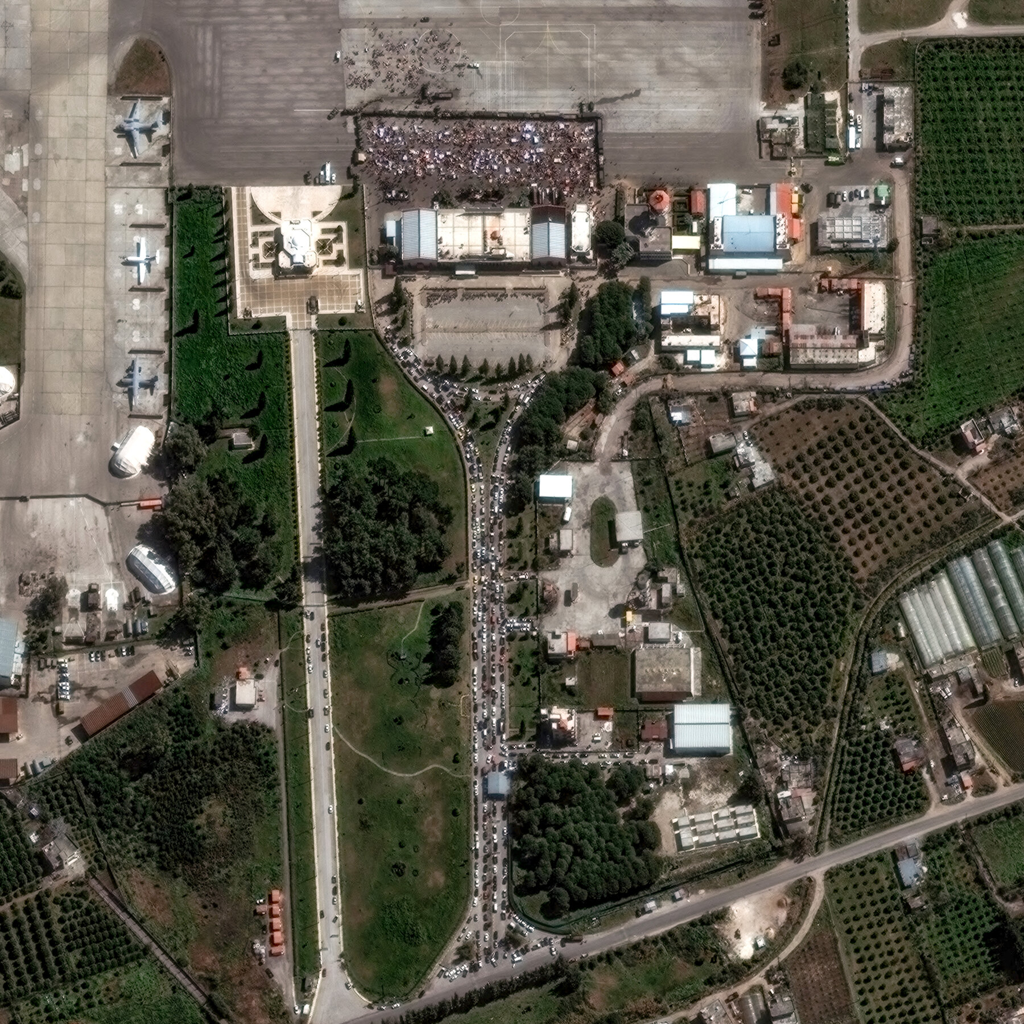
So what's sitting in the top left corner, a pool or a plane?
plane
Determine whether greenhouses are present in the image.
Yes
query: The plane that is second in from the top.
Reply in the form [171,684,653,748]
[125,237,160,280]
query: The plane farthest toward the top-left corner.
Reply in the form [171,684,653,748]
[115,101,155,150]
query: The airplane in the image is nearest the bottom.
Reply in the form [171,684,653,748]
[116,357,159,405]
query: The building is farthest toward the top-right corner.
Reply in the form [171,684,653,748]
[883,87,913,152]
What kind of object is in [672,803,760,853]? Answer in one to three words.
building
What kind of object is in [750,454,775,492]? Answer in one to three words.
house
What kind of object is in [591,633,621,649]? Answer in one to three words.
shed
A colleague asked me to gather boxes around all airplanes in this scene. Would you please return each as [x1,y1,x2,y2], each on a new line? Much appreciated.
[125,237,160,280]
[116,357,159,405]
[115,101,155,150]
